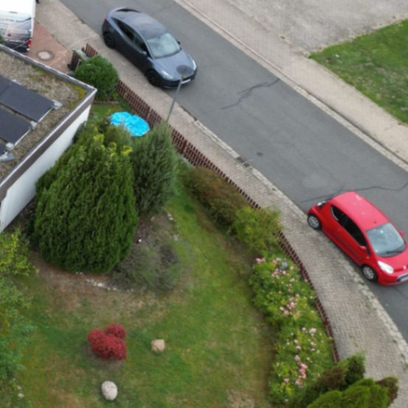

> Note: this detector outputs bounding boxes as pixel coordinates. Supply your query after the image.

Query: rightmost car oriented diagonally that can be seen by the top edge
[101,10,202,93]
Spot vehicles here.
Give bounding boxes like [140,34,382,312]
[101,10,202,93]
[308,194,408,290]
[0,0,37,54]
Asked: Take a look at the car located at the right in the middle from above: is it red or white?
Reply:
red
